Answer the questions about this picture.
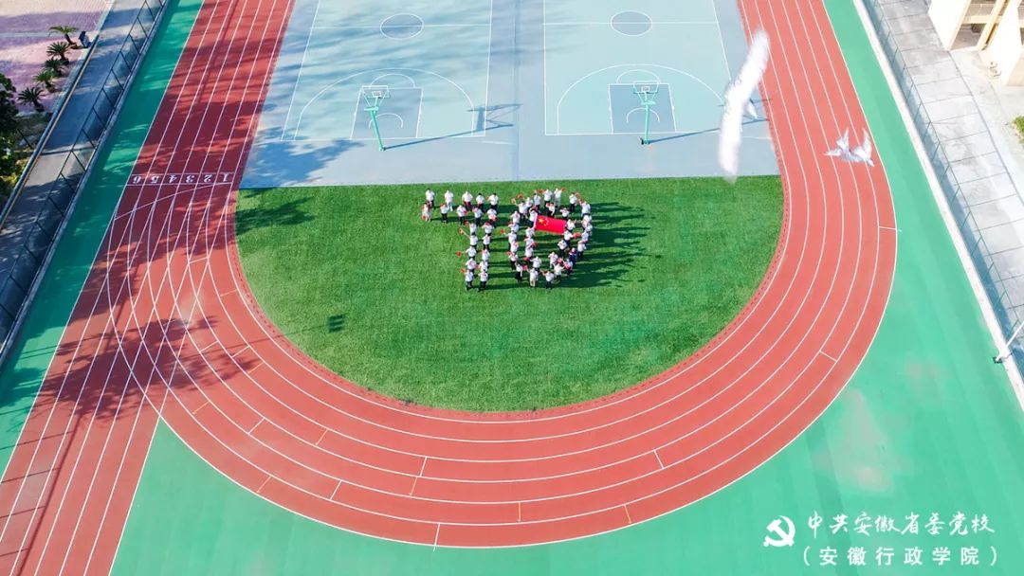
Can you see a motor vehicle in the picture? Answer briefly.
No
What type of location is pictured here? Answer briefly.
sports ground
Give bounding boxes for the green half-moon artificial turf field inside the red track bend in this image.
[236,174,781,411]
